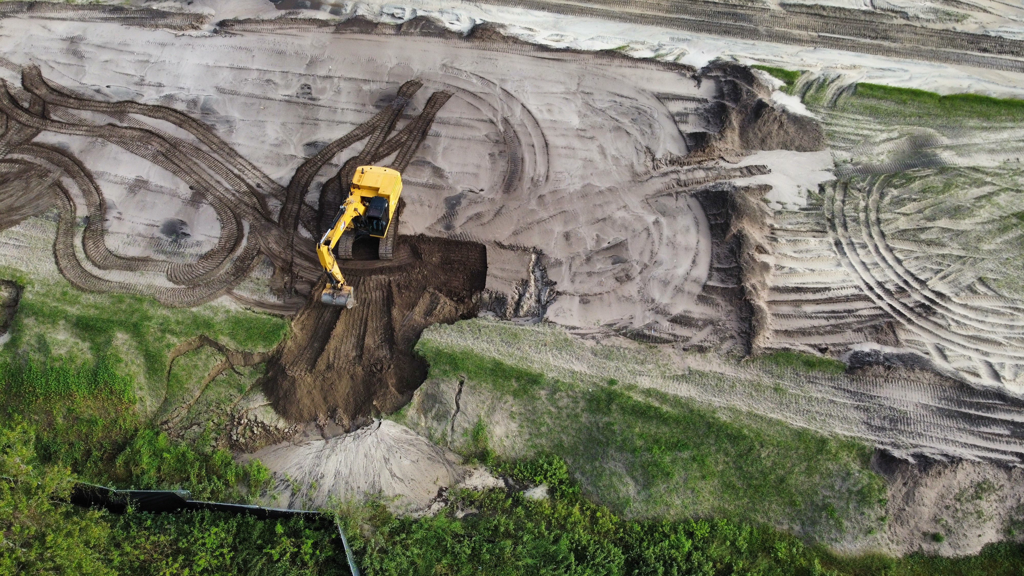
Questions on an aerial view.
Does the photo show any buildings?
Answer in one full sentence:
No, the frame has no building in it.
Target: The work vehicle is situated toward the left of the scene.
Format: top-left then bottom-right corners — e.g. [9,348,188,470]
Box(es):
[315,165,403,312]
